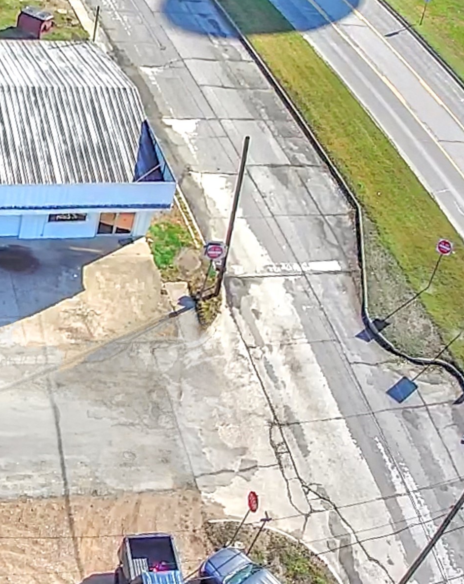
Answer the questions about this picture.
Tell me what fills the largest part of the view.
paved ground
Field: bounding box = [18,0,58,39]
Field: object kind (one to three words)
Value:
shed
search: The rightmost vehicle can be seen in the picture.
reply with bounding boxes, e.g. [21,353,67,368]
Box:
[188,540,272,584]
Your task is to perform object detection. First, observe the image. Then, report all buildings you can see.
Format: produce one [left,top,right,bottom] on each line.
[0,39,178,238]
[18,0,58,39]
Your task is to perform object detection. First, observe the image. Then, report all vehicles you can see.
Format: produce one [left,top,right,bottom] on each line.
[188,540,272,584]
[123,538,185,584]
